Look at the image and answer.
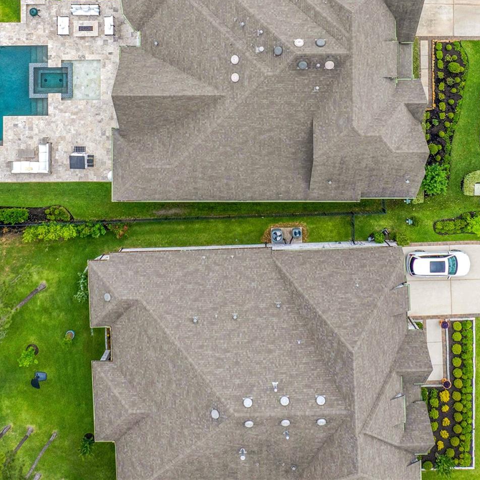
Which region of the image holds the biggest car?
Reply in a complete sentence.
The biggest car is in the right part of the image.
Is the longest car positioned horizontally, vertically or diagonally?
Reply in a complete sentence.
The longest car is laid out horizontally.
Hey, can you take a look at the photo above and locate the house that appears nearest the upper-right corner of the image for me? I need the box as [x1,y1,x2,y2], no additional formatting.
[111,0,429,202]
